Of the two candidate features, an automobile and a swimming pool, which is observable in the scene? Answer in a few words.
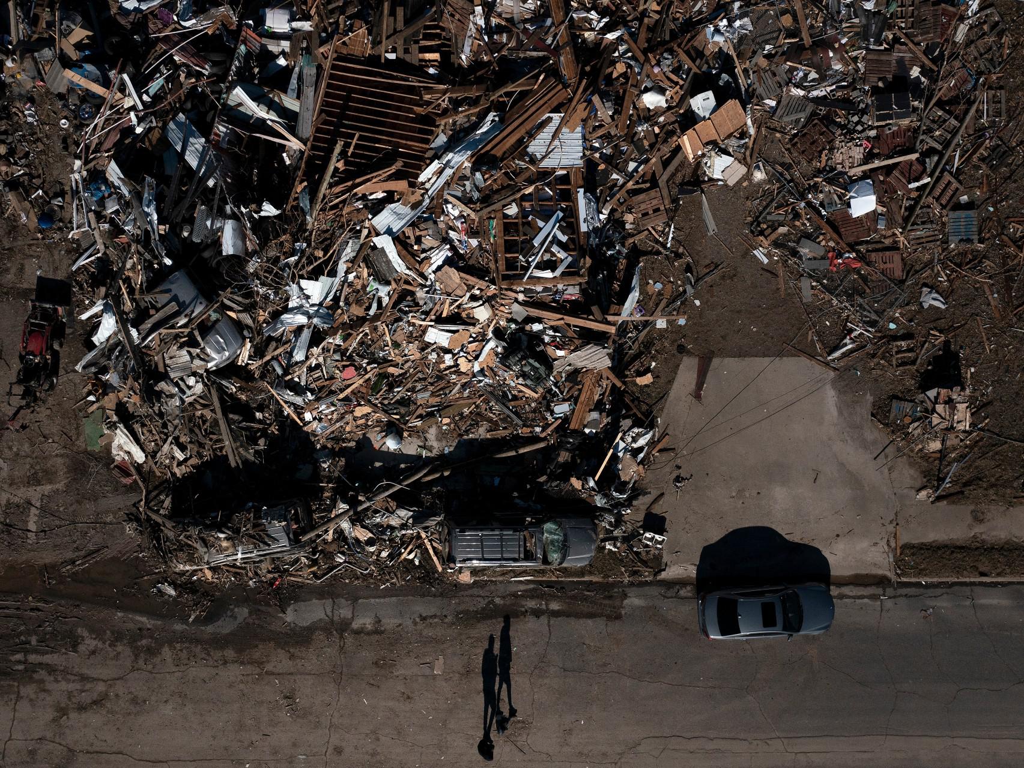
automobile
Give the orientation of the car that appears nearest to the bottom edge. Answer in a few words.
from left to right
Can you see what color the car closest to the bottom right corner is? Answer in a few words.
black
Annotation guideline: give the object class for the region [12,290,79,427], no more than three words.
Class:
work vehicle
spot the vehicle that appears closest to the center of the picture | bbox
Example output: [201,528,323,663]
[450,511,596,570]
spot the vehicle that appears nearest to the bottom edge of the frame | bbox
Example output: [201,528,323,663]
[694,577,834,643]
